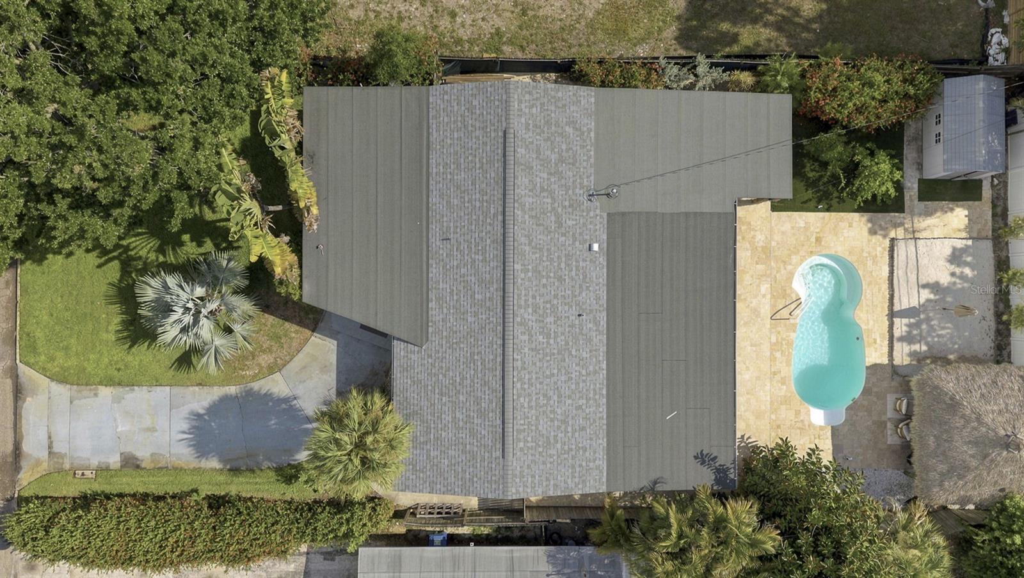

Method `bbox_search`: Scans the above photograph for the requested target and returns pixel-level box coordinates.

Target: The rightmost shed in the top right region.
[924,77,1004,179]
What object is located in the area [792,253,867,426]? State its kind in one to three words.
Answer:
swimming pool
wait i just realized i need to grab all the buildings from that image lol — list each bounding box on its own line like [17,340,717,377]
[911,366,1024,508]
[924,77,1004,179]
[302,80,792,499]
[357,536,627,578]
